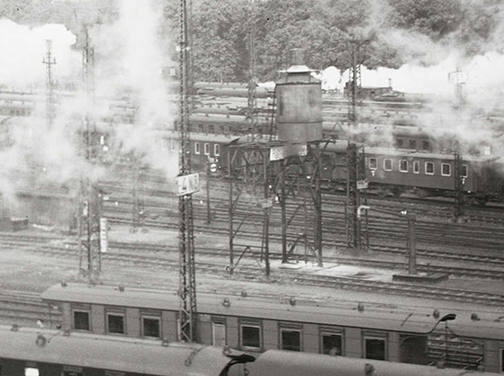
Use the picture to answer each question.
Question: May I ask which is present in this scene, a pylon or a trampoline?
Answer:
pylon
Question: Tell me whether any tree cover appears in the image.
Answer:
Yes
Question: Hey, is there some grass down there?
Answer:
No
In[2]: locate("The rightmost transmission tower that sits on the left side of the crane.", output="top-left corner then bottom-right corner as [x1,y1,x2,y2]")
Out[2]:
[332,40,378,250]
